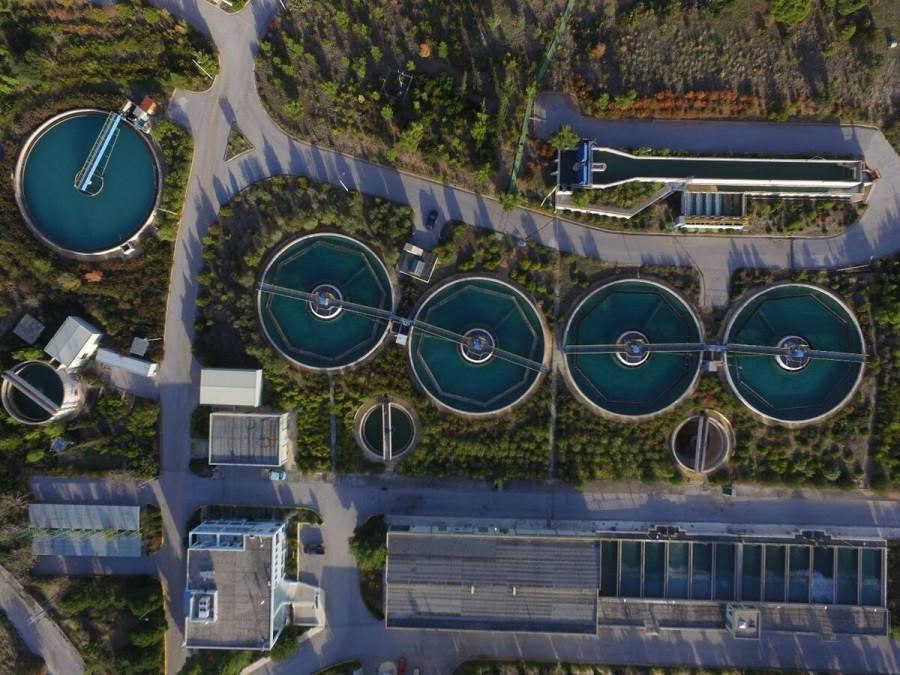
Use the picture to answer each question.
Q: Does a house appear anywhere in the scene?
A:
Yes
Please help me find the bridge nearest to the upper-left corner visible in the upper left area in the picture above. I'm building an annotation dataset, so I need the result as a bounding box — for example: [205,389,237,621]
[73,108,123,199]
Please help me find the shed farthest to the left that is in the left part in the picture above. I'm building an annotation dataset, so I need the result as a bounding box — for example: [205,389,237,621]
[11,313,48,345]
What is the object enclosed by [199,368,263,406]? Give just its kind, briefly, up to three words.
shed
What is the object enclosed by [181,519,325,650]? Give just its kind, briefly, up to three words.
building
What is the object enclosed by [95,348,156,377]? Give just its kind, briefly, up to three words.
shed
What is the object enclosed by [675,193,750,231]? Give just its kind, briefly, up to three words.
house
